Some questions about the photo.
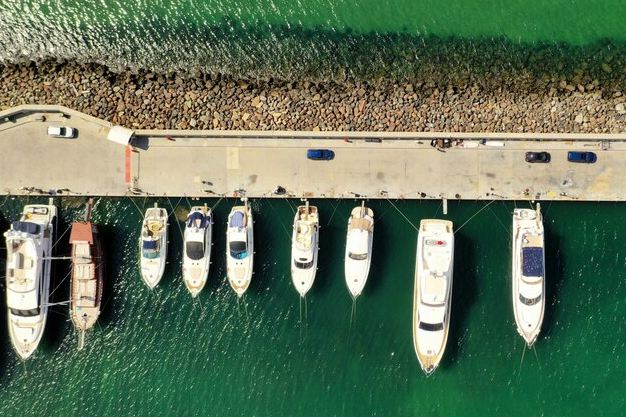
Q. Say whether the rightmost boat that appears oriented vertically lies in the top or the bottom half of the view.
bottom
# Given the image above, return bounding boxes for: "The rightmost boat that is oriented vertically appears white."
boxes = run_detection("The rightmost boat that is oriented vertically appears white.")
[510,203,550,350]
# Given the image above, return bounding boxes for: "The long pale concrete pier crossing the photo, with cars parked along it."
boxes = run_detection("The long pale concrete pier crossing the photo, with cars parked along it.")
[0,114,626,202]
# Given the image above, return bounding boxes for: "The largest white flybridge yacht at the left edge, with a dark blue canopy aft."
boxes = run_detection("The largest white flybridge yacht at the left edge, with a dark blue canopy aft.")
[3,197,57,362]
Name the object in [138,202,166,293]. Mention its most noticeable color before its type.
white boat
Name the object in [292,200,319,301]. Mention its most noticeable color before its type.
white boat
